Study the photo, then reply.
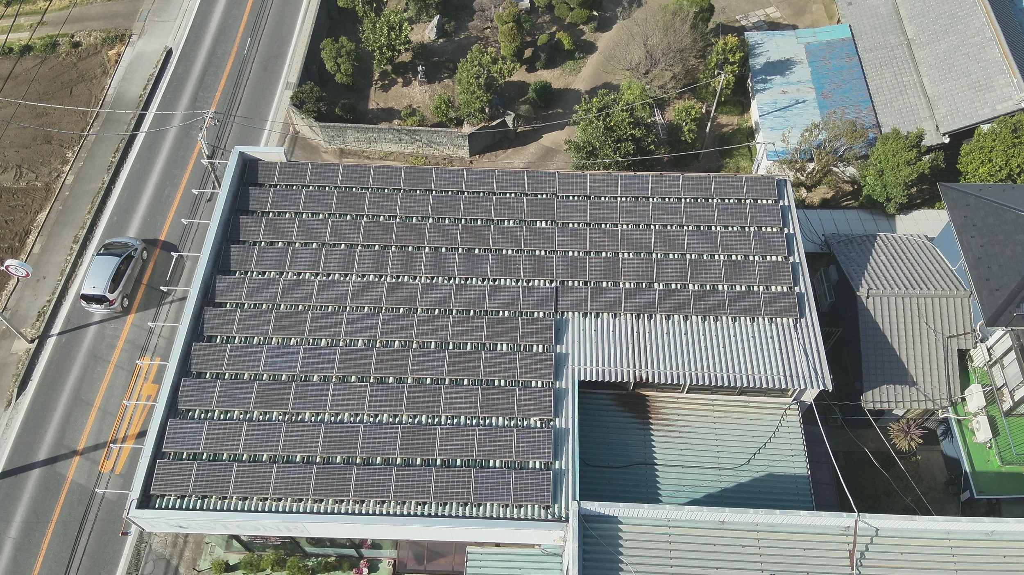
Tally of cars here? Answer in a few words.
1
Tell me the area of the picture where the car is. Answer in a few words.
left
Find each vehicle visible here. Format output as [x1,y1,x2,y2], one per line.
[75,239,147,317]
